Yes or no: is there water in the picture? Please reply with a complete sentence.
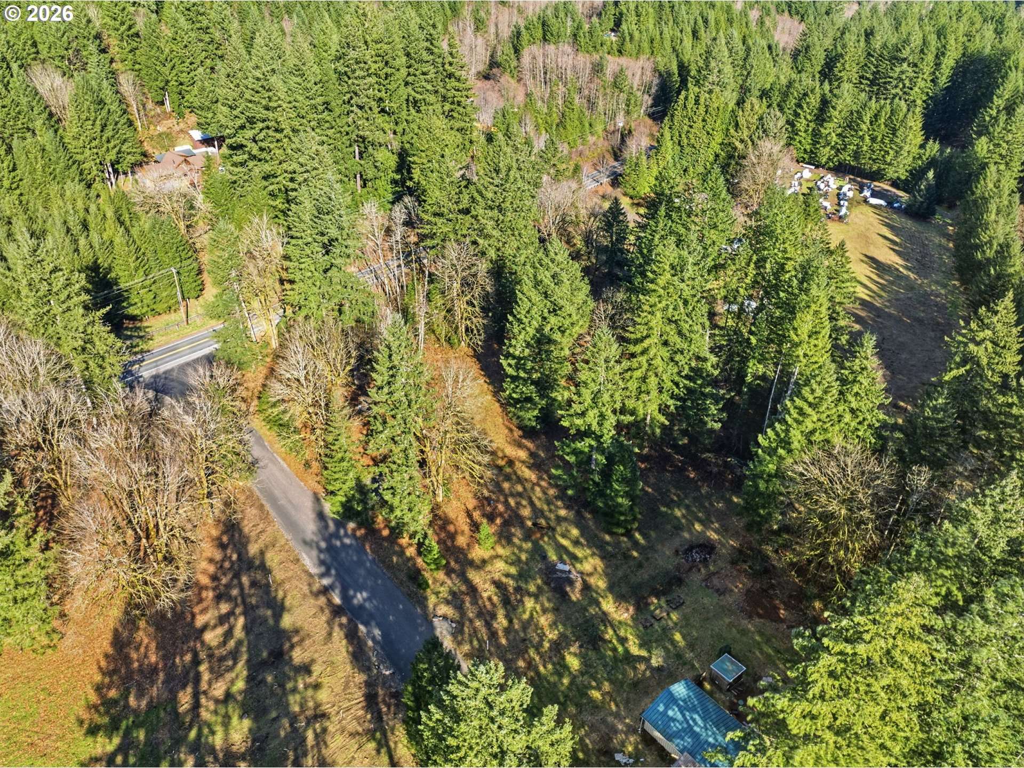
No, there is no water in the image.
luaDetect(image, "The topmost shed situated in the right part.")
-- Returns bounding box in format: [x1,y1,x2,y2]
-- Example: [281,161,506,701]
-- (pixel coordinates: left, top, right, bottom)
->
[708,650,744,694]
